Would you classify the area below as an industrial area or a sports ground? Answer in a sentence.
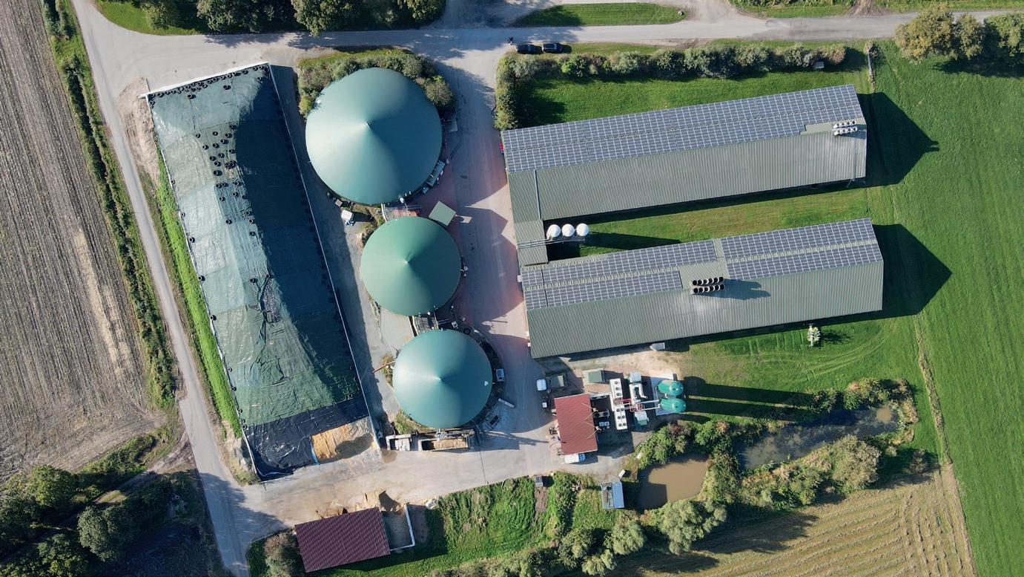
It's an industrial area.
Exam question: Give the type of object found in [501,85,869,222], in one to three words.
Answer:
barn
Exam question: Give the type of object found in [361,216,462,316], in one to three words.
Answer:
storage tank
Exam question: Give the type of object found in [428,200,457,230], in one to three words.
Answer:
shed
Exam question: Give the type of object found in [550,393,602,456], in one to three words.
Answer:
house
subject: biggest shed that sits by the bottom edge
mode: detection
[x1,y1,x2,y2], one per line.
[296,505,390,571]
